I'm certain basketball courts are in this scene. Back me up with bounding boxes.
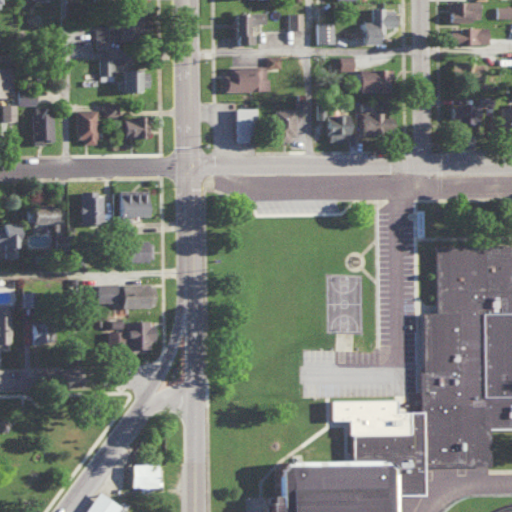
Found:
[326,275,362,334]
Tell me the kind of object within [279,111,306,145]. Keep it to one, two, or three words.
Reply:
house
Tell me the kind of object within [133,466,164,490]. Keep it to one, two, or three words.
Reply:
house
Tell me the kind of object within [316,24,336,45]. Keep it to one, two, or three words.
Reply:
building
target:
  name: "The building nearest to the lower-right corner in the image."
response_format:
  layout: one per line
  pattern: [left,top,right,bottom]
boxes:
[276,246,512,512]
